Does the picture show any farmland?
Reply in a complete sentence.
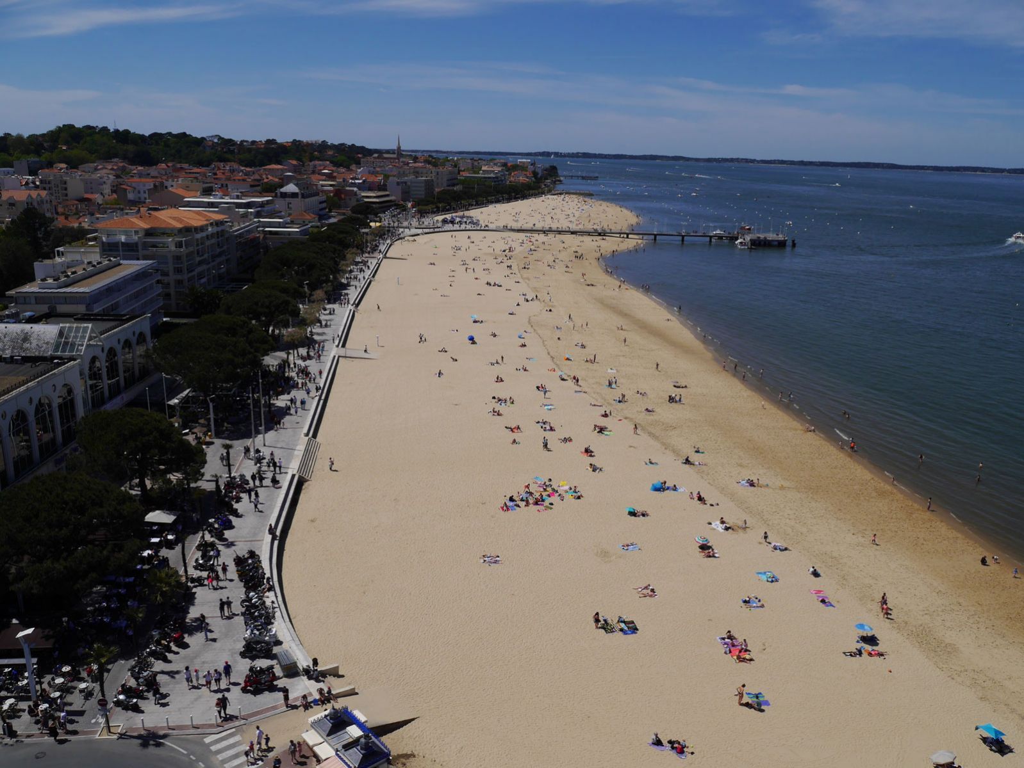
No, there's no farmland in this view.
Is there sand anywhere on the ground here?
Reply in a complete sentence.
Yes, there's sand in this view.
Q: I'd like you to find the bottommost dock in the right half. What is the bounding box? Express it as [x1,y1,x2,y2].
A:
[487,214,787,250]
